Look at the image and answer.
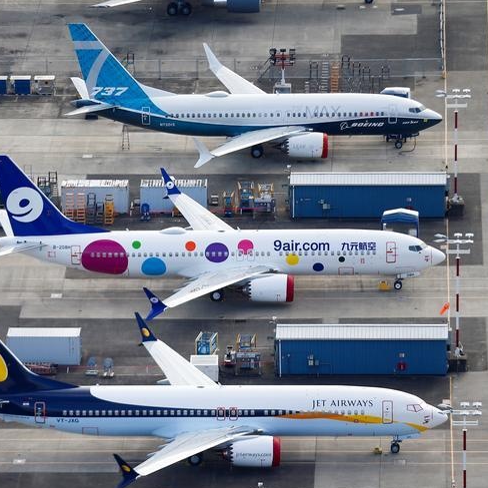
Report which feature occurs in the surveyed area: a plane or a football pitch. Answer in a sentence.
It is a plane that can be seen here.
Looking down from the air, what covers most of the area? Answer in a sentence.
Most of the picture is covered by paved ground.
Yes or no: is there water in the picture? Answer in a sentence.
No, there is no water in the image.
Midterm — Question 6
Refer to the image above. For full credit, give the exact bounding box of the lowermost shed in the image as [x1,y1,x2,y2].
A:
[266,324,455,375]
